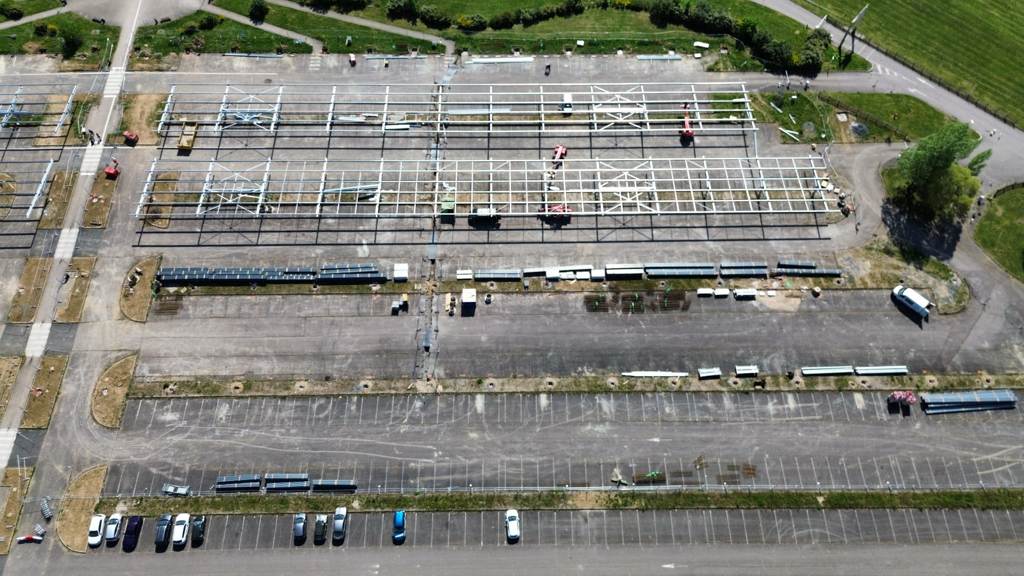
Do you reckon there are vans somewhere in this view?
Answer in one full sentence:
Yes, you can see a van in this photo.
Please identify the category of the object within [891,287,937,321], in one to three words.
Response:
van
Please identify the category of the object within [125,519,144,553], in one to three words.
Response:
car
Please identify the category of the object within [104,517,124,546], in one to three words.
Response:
car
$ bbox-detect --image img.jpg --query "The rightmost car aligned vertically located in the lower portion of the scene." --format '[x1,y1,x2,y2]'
[506,510,520,541]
